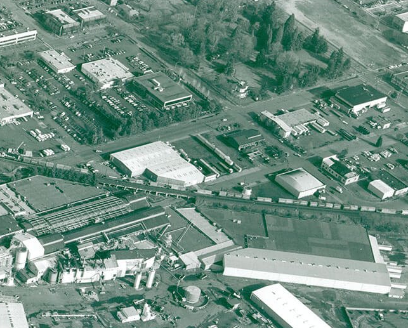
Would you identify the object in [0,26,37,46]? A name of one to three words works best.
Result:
building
